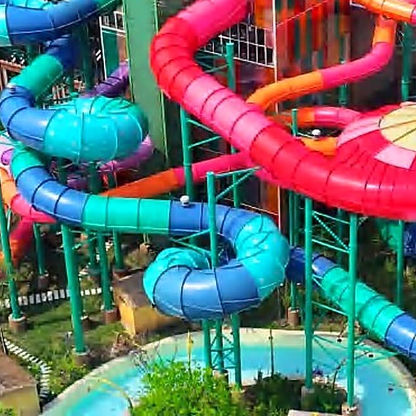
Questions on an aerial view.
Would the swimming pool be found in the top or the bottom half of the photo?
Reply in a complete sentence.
The bottom half of the photo is where the swimming pool is.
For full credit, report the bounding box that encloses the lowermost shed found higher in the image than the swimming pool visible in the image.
[103,270,188,342]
